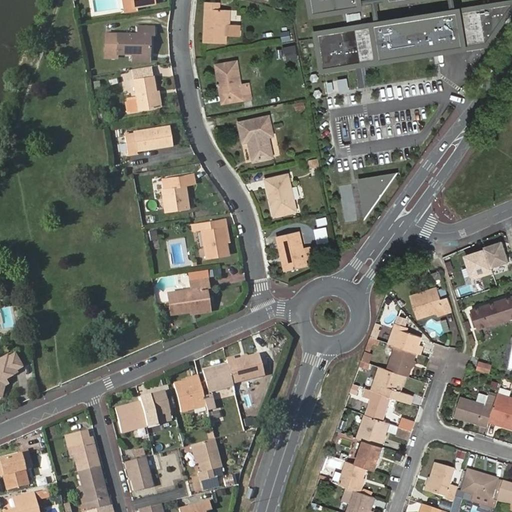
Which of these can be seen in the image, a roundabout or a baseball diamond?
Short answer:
roundabout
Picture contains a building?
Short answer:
Yes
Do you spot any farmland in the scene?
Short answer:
No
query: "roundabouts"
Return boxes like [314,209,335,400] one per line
[290,276,370,356]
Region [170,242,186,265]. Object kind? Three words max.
swimming pool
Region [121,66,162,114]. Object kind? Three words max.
house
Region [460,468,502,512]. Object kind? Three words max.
house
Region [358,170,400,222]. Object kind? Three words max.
building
